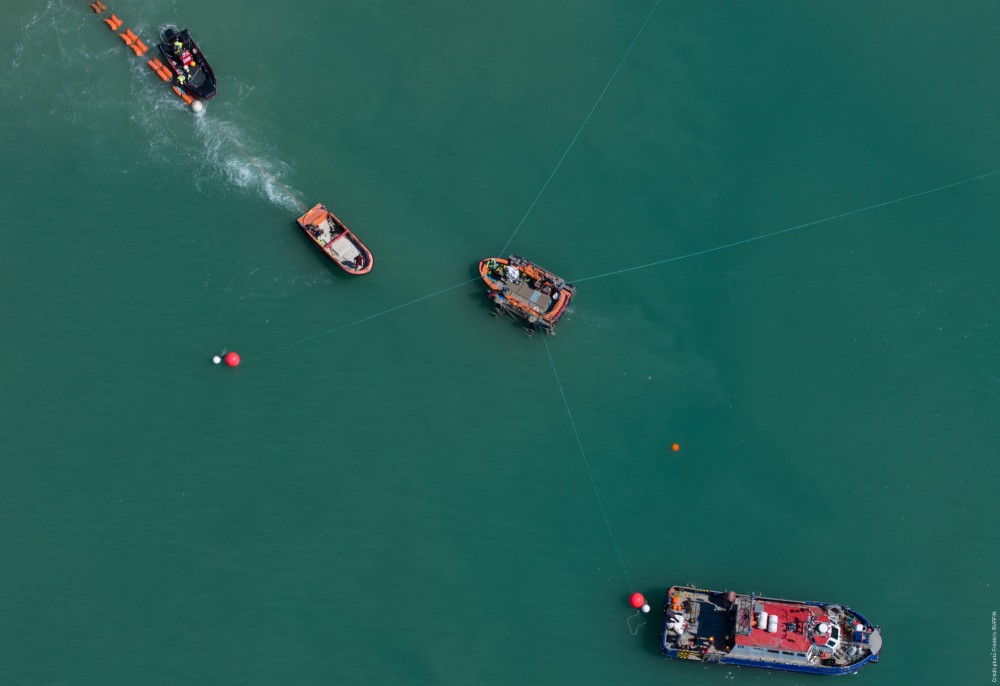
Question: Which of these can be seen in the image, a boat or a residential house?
boat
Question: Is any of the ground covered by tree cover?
No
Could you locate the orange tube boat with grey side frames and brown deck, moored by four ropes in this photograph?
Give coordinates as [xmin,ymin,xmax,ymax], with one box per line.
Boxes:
[479,254,576,335]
